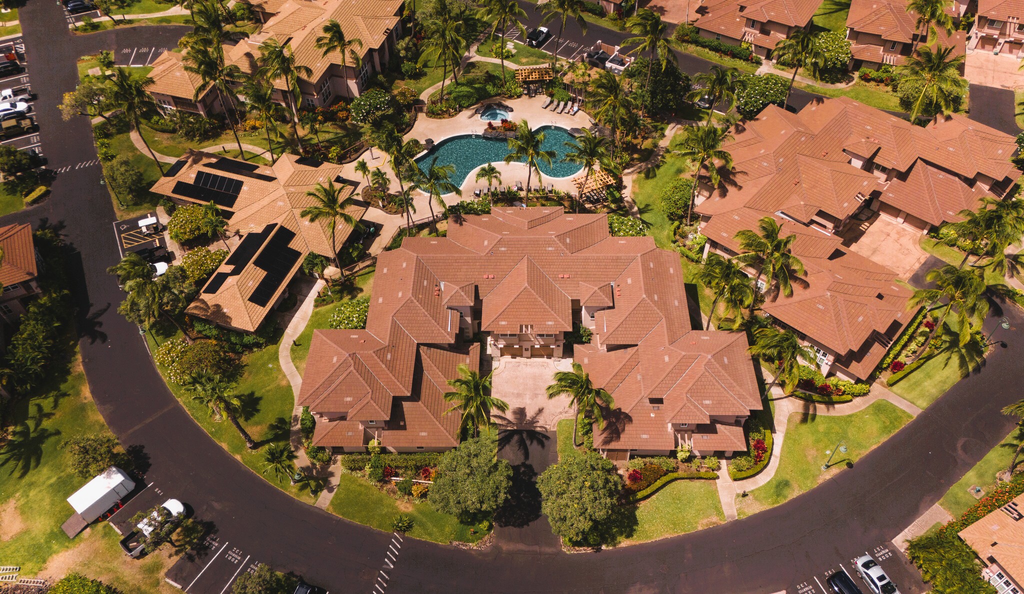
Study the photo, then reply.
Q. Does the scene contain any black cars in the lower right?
Yes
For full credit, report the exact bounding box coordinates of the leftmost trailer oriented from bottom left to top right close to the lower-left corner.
[56,466,141,545]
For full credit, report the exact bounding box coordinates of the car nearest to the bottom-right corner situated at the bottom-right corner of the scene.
[857,549,906,594]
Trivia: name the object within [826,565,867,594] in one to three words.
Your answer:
car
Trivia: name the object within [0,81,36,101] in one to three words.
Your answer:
vehicle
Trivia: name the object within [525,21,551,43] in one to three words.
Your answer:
car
